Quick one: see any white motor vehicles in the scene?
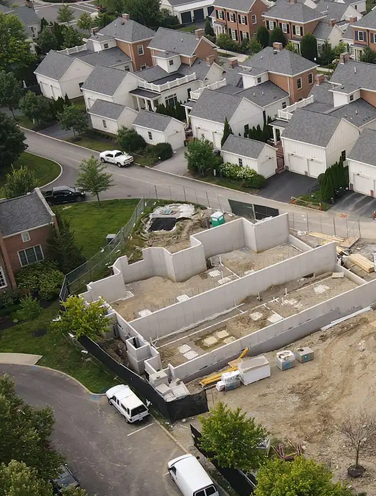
Yes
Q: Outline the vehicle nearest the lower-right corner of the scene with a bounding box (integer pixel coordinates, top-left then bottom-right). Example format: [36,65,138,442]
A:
[162,448,227,496]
